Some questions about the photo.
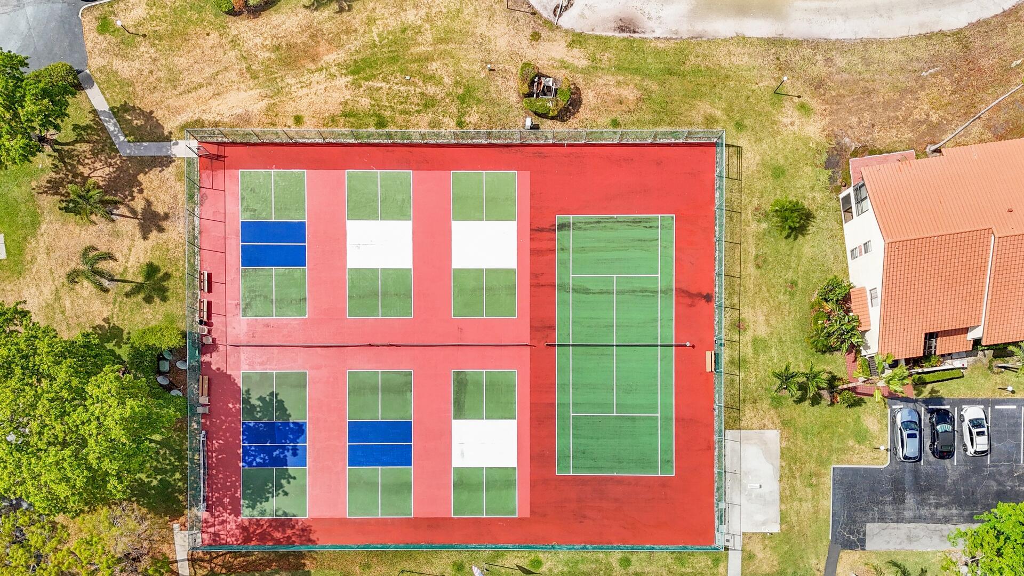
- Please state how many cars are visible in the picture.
three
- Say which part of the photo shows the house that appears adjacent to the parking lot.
right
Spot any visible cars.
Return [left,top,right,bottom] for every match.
[894,408,922,463]
[963,406,993,457]
[931,410,958,458]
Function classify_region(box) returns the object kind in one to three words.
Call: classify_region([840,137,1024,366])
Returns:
house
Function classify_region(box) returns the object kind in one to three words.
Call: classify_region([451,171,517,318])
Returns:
sports court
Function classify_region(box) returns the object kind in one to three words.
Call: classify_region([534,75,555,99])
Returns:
building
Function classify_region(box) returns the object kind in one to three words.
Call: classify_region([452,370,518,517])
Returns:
sports court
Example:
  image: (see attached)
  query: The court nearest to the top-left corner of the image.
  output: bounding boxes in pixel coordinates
[239,170,307,318]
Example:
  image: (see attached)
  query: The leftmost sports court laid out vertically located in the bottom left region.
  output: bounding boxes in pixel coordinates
[241,371,308,518]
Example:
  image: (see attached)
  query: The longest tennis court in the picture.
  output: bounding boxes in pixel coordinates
[556,214,675,476]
